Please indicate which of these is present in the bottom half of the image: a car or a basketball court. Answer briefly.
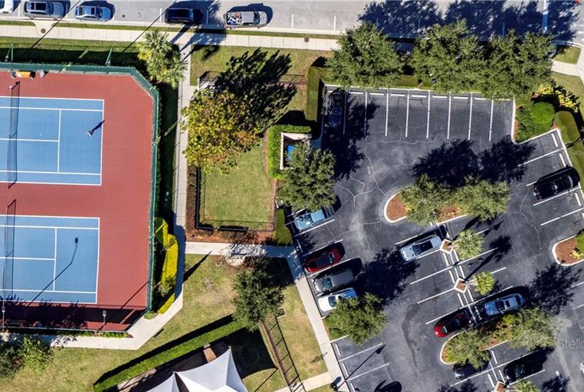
car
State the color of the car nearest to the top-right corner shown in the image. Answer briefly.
black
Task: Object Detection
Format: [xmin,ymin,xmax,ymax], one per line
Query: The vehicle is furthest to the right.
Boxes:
[531,170,577,198]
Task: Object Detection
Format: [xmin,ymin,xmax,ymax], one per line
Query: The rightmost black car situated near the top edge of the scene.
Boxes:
[164,6,203,25]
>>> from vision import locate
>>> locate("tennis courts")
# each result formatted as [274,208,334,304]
[0,215,101,304]
[0,96,104,185]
